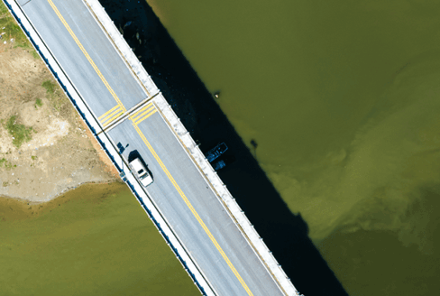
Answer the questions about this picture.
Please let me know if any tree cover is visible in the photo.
No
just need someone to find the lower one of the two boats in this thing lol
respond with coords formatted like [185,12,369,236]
[212,159,226,172]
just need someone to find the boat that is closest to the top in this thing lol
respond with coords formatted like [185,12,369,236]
[206,144,228,163]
